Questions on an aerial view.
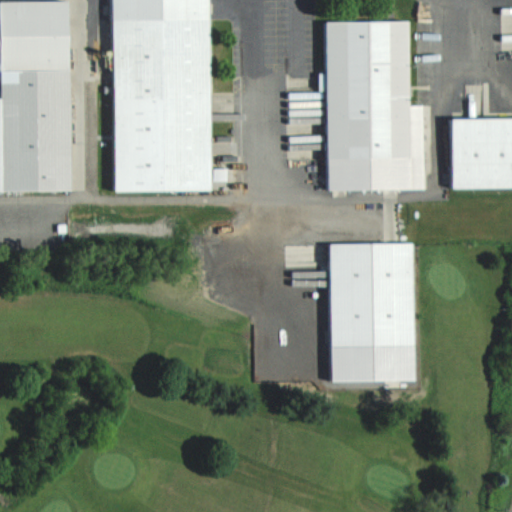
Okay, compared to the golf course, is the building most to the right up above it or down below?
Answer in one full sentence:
Looking at the photo, you'll find the building most to the right above the golf course.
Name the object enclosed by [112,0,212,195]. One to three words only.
building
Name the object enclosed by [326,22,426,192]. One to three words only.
building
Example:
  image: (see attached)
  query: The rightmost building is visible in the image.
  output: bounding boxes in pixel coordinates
[450,118,512,191]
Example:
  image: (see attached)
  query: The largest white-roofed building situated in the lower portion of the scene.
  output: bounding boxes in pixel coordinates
[329,243,416,383]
